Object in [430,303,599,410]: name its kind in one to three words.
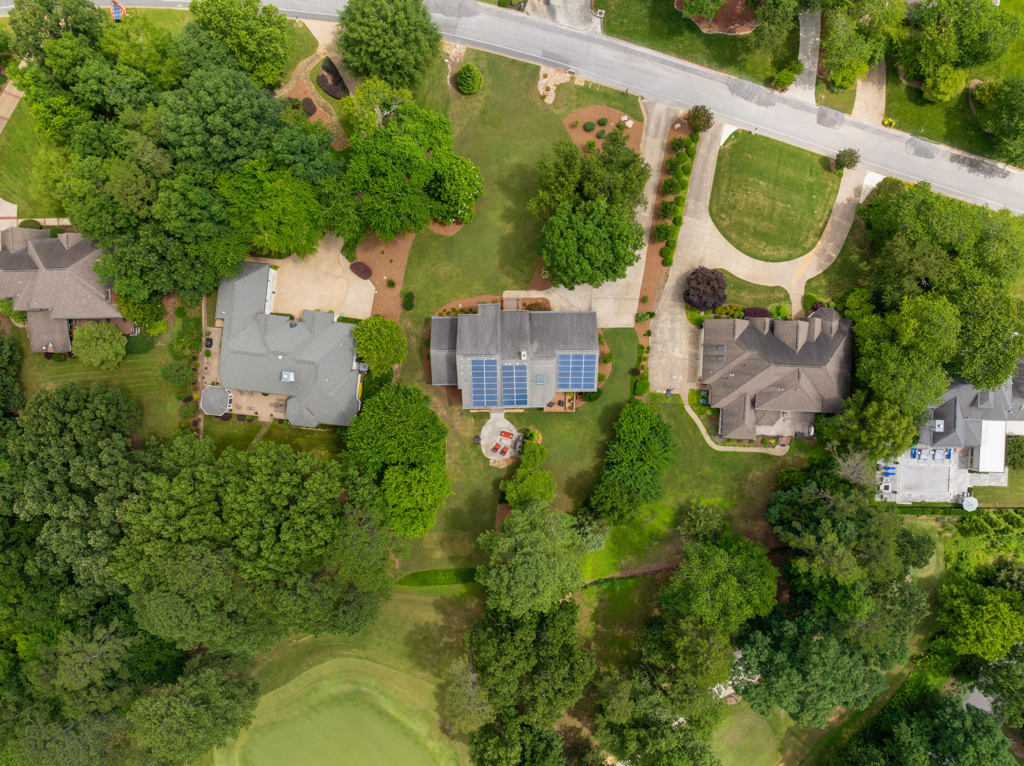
house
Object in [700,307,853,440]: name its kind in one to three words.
house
